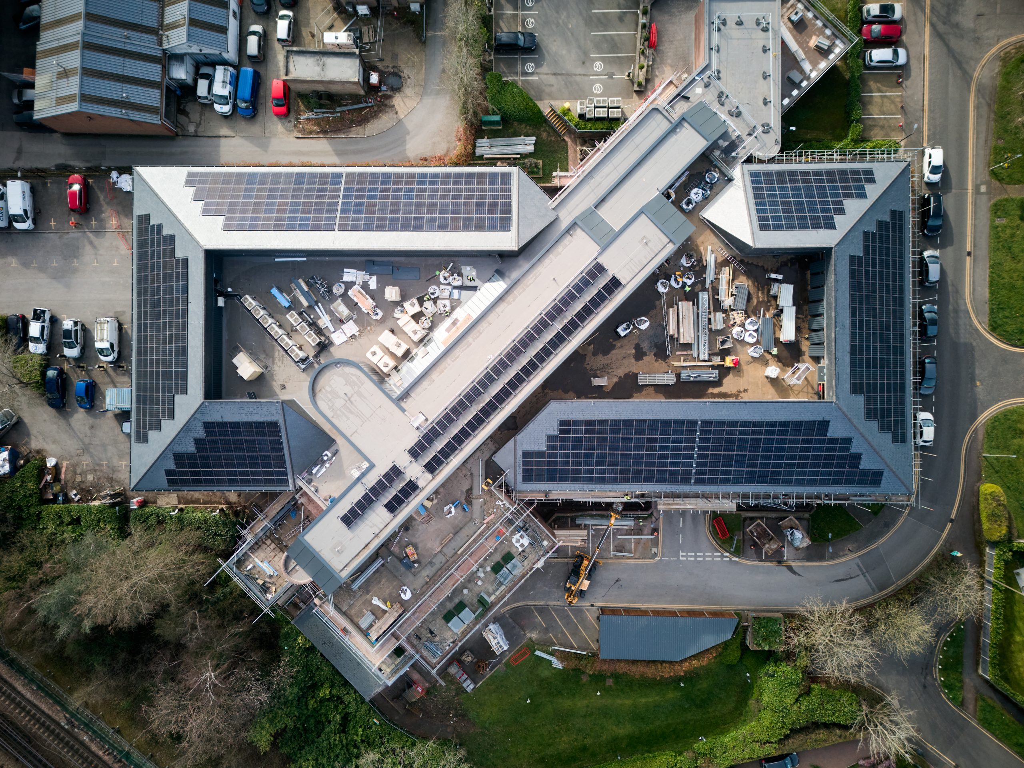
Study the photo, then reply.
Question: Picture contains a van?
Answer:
Yes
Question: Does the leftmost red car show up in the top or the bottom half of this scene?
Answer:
top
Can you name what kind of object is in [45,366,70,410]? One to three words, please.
car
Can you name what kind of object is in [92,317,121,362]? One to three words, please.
van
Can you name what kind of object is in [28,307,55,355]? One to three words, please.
truck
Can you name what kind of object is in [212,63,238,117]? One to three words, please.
vehicle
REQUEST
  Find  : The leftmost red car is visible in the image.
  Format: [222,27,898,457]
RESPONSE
[65,174,91,215]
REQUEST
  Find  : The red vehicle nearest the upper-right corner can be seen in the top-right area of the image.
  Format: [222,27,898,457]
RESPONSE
[861,22,904,47]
